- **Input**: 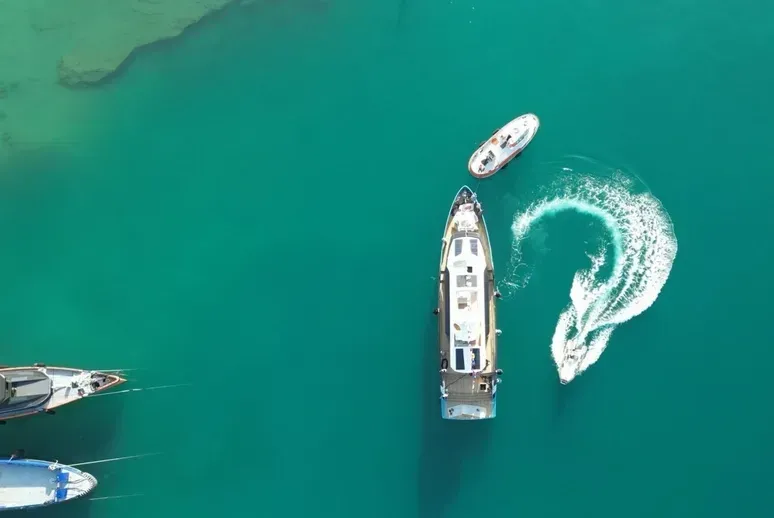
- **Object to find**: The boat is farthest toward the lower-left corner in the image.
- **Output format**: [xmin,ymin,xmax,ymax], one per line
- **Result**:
[0,460,96,510]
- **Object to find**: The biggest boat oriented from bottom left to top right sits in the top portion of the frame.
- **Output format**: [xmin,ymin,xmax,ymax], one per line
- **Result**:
[469,113,539,178]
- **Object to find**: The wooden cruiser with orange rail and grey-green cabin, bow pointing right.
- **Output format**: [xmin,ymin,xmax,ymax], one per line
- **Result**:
[0,366,128,420]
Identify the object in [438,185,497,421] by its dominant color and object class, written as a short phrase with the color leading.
white boat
